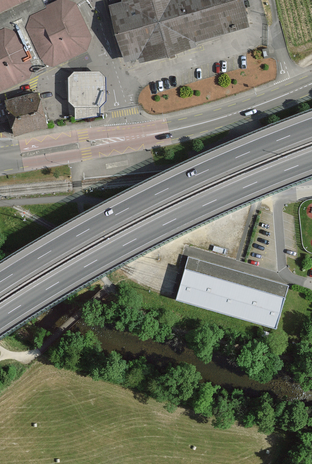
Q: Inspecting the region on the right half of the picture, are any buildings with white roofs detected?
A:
Yes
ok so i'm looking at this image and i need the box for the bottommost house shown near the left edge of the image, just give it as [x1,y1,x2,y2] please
[5,92,48,136]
